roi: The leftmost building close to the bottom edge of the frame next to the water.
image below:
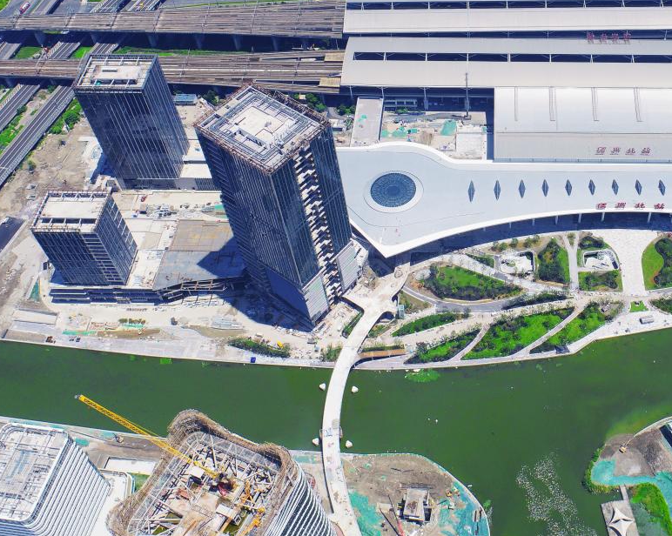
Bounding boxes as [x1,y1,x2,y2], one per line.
[0,422,103,536]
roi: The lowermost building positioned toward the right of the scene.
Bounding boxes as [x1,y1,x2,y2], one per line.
[399,491,435,526]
